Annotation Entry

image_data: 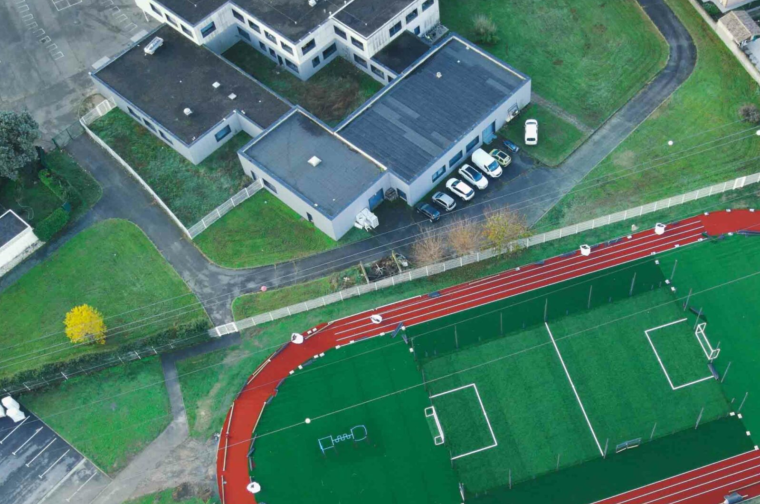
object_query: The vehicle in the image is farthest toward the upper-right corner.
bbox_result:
[522,119,539,145]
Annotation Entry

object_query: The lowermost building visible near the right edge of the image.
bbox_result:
[718,11,760,55]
